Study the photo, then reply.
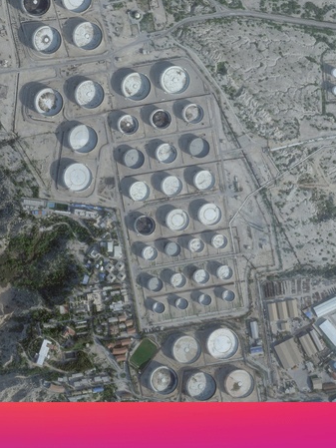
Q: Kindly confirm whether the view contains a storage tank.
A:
Yes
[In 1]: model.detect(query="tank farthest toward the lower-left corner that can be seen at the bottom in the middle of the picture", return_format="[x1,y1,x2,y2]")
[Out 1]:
[150,366,179,400]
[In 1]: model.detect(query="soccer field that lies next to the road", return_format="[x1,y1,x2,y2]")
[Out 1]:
[128,335,160,370]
